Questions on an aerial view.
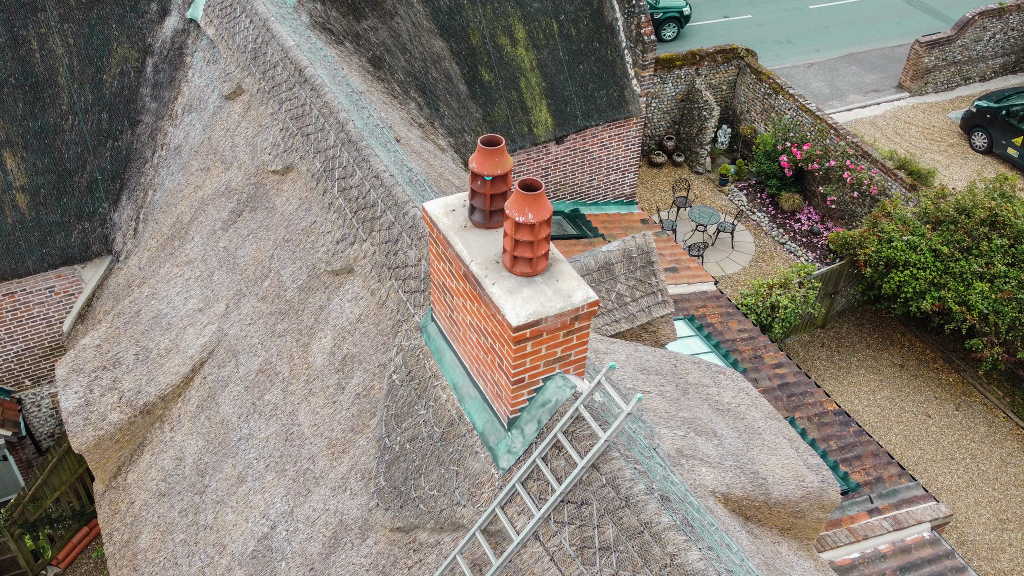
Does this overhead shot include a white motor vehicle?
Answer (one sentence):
No, there isn't any white motor vehicle down there.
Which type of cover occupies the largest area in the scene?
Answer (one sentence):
Most of the picture is covered by buildings.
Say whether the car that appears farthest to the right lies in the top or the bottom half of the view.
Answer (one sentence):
Seen from above, the car that appears farthest to the right lies in the top half of the view.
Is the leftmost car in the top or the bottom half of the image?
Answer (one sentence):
It is in the top half that the leftmost car appears.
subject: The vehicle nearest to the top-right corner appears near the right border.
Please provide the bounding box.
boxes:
[962,97,1024,163]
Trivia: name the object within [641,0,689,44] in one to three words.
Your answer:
car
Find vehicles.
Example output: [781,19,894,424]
[641,0,689,44]
[962,97,1024,163]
